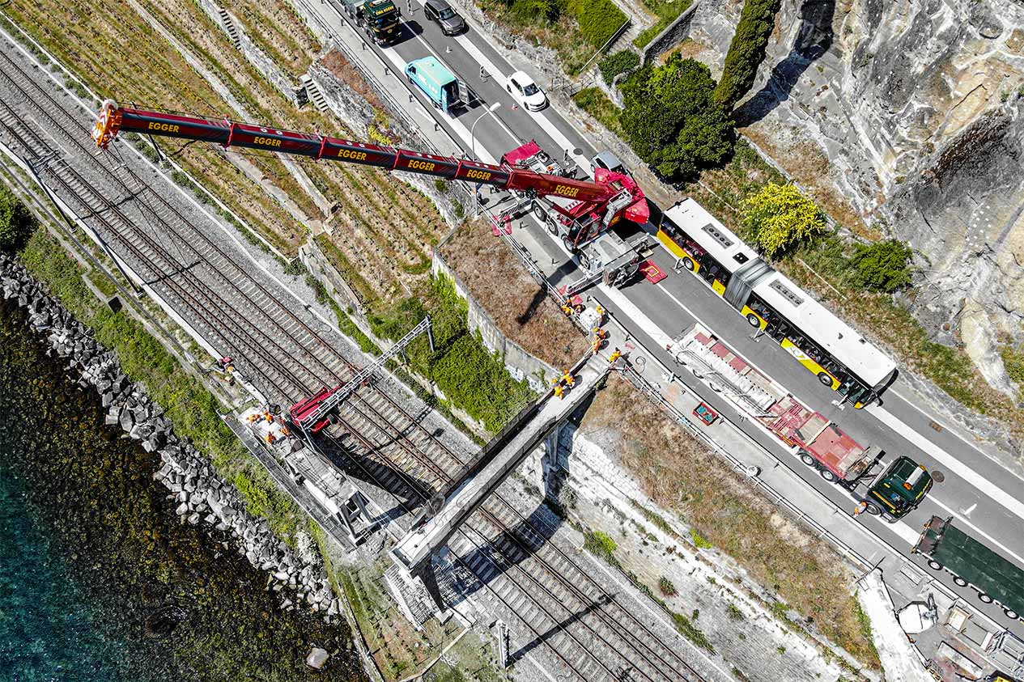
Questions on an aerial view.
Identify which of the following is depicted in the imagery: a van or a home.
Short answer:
van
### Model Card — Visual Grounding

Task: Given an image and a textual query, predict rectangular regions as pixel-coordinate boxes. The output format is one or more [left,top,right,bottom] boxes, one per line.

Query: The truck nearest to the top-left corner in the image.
[333,0,402,42]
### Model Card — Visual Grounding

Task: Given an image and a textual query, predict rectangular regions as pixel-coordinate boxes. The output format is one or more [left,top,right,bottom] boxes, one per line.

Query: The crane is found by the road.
[99,104,652,518]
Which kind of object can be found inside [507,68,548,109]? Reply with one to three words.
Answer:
car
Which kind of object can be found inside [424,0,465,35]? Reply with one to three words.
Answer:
car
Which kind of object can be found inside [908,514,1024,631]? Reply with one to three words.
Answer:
trailer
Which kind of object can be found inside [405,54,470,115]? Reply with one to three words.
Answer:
van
